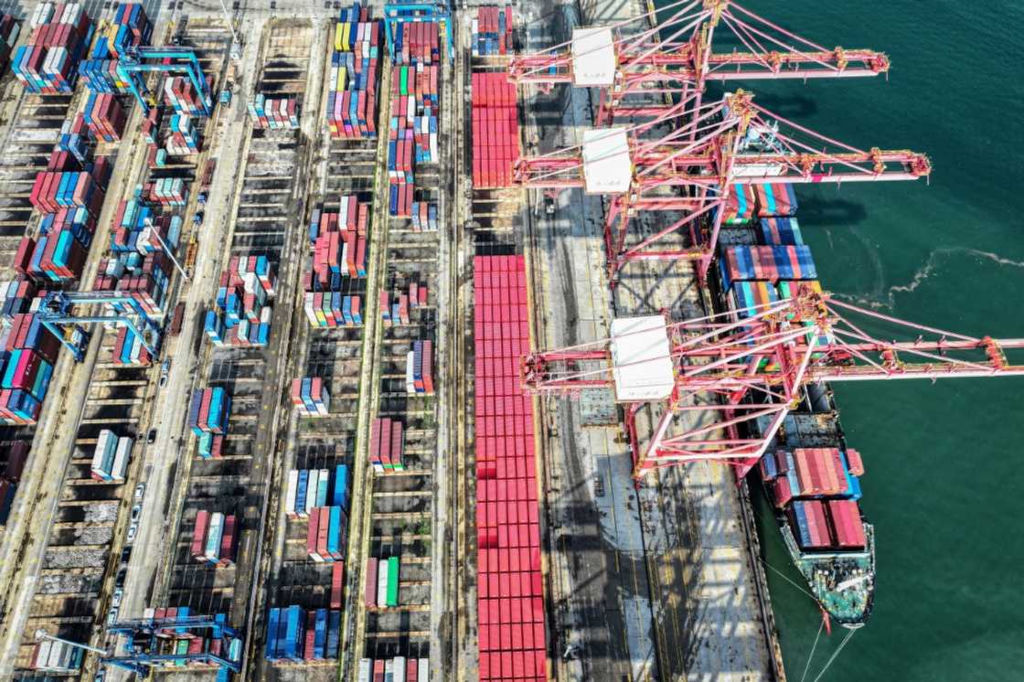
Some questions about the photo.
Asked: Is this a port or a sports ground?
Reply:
port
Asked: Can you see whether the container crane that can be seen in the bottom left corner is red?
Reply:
No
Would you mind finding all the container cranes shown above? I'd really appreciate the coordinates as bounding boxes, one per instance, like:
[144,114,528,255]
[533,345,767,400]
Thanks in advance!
[385,0,454,67]
[116,44,215,118]
[530,290,1024,503]
[96,621,245,681]
[33,288,163,364]
[503,0,897,193]
[508,94,940,299]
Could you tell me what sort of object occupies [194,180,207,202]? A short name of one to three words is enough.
vehicle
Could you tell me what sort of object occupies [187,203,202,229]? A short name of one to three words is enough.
vehicle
